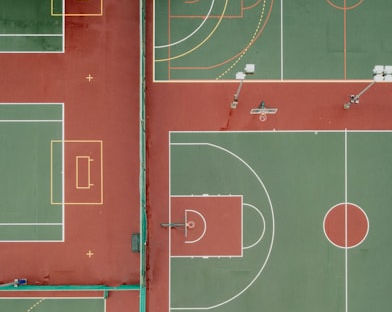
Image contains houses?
No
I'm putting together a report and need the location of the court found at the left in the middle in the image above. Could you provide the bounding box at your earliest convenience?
[0,103,102,242]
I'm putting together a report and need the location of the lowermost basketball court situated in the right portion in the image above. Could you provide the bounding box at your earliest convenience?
[168,128,392,312]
